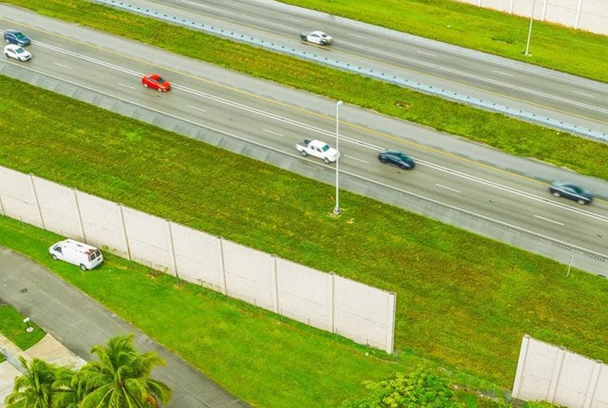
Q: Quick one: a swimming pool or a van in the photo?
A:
van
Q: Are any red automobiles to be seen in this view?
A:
Yes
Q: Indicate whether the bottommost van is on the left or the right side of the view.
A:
left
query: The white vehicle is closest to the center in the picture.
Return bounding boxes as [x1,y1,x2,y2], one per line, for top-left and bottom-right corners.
[294,140,341,163]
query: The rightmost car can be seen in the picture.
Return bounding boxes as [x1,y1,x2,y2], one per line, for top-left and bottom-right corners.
[548,183,594,205]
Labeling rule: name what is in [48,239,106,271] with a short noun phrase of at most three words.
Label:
van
